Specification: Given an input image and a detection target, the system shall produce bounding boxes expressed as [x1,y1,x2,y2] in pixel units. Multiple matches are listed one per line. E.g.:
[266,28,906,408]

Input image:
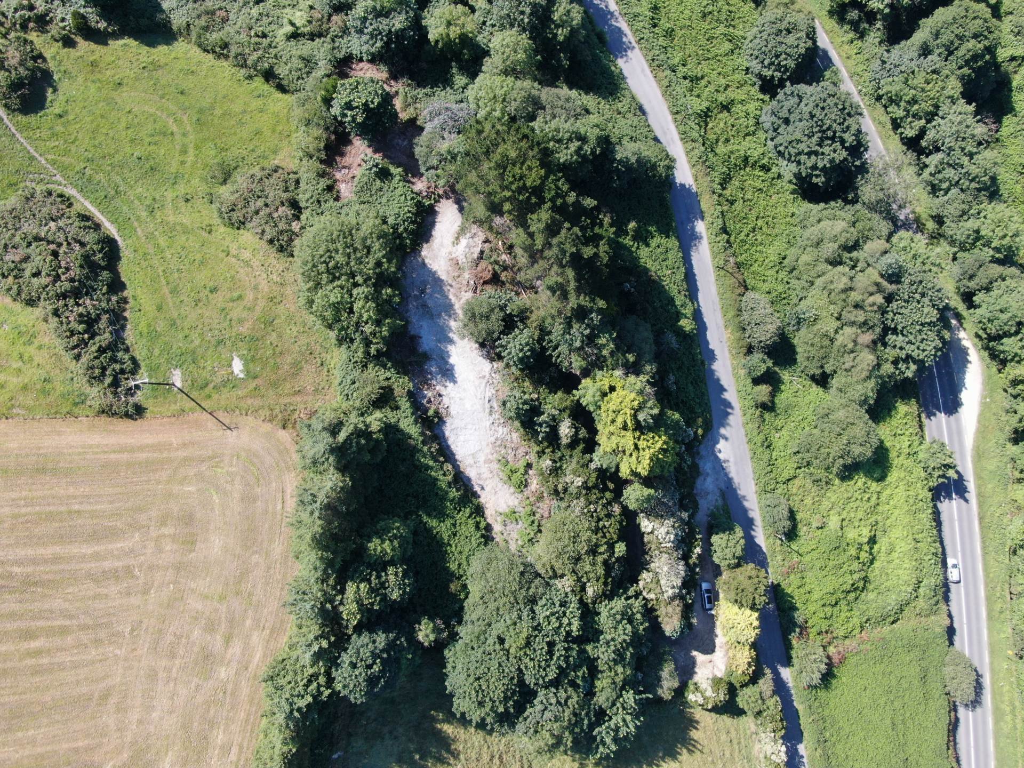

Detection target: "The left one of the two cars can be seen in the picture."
[700,582,714,612]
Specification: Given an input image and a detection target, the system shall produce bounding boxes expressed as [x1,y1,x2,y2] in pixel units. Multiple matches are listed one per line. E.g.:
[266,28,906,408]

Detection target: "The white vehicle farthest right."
[944,557,960,583]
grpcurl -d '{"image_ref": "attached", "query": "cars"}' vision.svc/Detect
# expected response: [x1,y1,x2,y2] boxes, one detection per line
[700,582,714,612]
[944,557,960,583]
